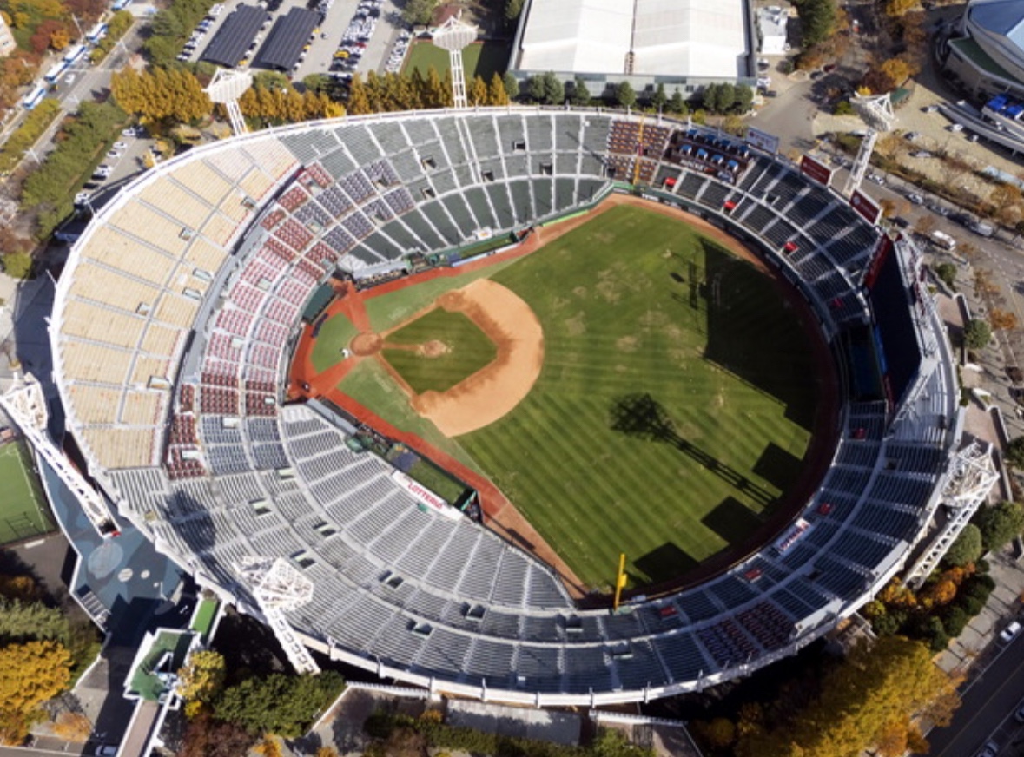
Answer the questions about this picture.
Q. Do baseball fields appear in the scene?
Yes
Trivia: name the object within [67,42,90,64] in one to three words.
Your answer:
bus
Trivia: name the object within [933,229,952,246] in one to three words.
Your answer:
vehicle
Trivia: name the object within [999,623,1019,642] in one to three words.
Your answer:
car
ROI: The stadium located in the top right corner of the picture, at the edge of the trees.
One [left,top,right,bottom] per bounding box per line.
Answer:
[925,0,1024,162]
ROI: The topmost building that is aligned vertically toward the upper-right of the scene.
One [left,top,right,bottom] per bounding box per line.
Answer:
[755,5,787,70]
